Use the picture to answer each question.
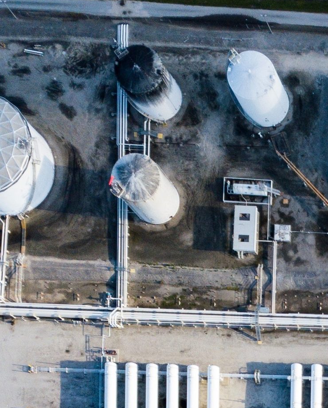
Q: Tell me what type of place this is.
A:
industrial area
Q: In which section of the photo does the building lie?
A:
right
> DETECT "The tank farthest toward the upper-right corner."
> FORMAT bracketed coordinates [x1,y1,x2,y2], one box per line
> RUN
[226,48,293,131]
